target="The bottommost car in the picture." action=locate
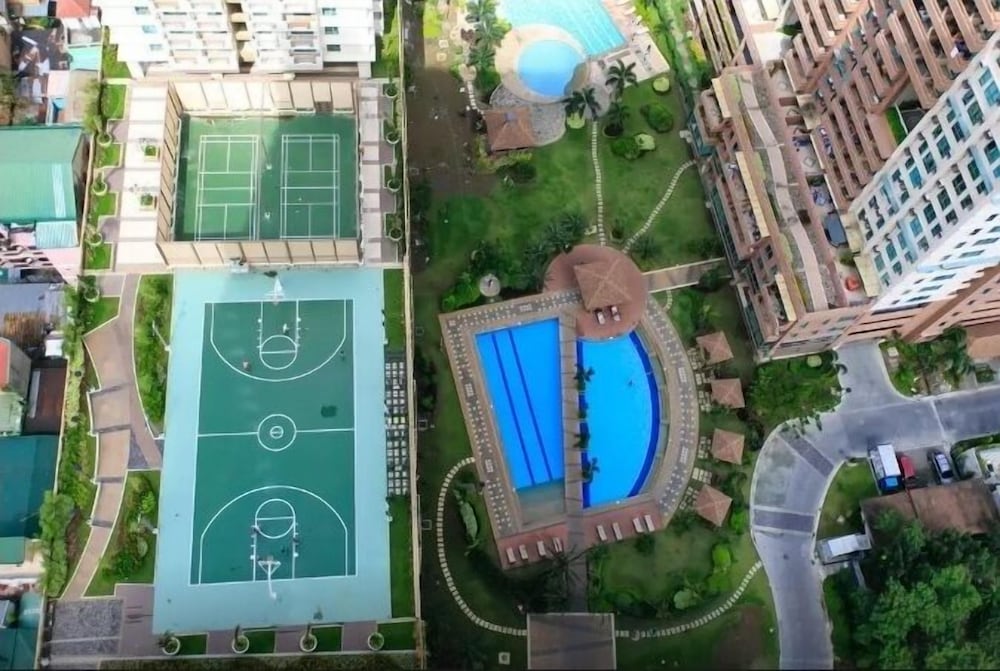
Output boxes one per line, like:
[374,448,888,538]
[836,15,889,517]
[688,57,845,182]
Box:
[814,535,868,567]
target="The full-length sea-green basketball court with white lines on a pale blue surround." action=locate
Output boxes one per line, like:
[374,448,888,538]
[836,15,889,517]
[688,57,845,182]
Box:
[153,264,391,633]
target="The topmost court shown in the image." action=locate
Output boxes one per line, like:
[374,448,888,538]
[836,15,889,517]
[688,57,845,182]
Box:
[173,114,357,238]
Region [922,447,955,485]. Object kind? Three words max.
car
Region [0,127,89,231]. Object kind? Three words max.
house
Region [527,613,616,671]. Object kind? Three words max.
building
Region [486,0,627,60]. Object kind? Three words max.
swimming pool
